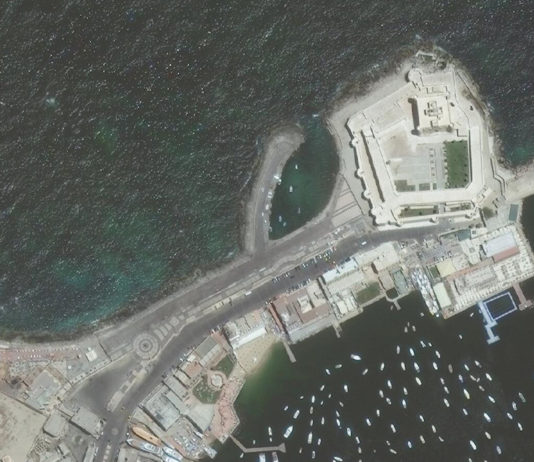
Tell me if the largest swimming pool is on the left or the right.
right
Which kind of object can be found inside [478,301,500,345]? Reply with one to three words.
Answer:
pier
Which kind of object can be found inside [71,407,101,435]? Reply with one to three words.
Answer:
hangar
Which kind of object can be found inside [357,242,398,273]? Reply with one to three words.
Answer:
building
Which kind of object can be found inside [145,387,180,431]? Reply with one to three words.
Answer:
shed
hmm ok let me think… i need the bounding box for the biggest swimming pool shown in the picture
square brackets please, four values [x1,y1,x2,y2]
[483,291,518,321]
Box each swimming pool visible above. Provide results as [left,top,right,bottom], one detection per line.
[507,203,519,222]
[483,291,518,321]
